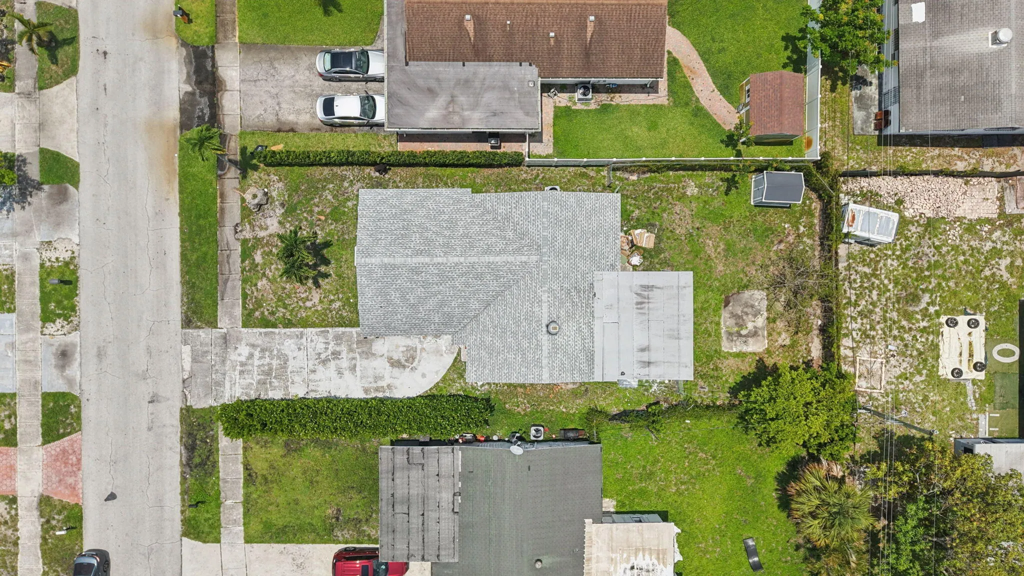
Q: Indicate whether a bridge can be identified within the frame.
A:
No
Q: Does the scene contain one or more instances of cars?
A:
Yes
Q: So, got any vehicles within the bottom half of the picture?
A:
Yes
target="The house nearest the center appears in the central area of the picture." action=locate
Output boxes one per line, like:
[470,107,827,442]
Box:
[354,188,694,385]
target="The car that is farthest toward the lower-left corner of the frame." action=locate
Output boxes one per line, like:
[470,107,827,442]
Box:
[73,553,111,576]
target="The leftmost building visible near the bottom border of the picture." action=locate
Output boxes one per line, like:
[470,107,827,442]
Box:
[379,439,603,576]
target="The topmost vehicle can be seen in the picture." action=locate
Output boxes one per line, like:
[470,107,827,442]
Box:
[317,39,383,76]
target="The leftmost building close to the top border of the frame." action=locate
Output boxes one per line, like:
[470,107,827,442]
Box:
[383,0,669,140]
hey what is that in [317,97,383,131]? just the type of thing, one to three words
car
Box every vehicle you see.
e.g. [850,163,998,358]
[73,553,111,576]
[317,39,383,76]
[333,548,408,576]
[317,97,383,131]
[828,204,897,246]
